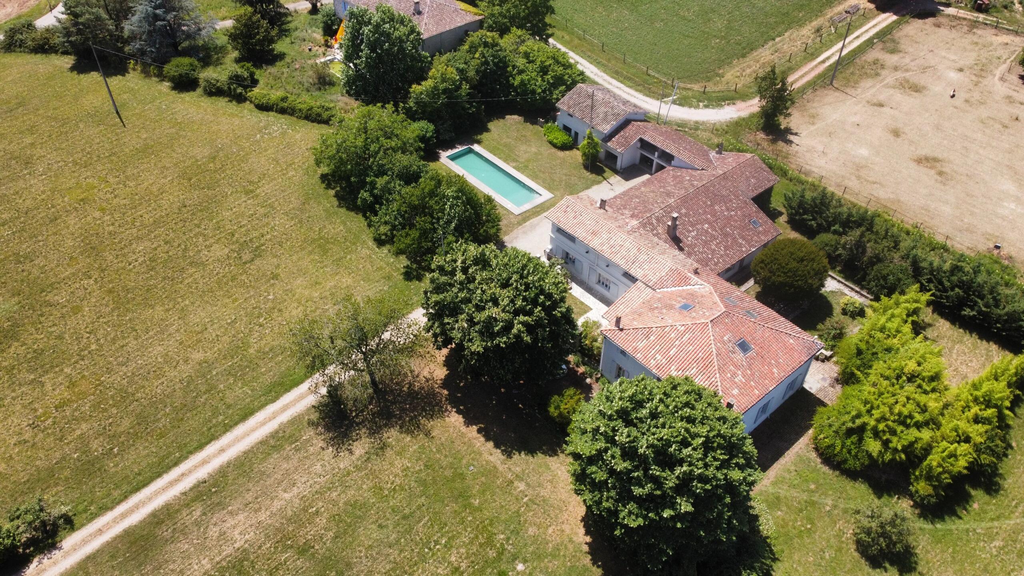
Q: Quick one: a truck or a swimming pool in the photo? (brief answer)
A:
swimming pool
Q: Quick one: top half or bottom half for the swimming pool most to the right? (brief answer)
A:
top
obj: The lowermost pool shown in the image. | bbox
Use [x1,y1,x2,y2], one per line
[434,140,555,215]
